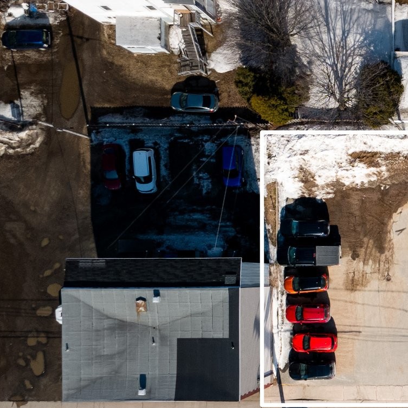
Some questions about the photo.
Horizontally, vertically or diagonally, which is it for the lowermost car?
horizontally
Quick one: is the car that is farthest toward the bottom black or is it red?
black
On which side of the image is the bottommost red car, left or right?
right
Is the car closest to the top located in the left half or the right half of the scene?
left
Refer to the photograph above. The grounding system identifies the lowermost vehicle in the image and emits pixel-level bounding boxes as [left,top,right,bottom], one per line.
[290,359,338,383]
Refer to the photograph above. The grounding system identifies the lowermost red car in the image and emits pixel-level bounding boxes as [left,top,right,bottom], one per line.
[292,331,338,354]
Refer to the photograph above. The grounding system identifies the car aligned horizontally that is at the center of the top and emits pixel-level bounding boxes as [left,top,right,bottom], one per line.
[173,89,219,113]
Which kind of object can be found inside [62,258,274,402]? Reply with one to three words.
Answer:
building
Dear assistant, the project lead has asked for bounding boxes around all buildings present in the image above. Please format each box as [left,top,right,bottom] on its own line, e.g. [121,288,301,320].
[62,258,274,402]
[65,0,234,52]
